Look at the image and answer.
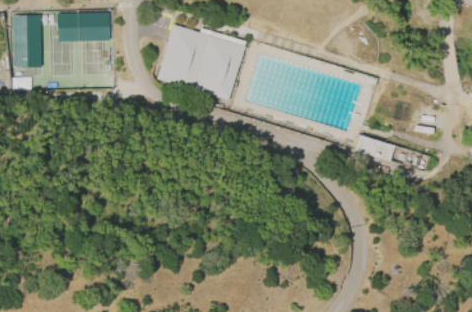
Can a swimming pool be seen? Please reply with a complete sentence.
Yes, the frame does contain a swimming pool.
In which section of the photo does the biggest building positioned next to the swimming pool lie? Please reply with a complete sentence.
You can find the biggest building positioned next to the swimming pool in the top area of the picture.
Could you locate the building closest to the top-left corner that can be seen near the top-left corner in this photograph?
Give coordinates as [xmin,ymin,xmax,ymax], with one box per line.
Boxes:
[13,14,43,67]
